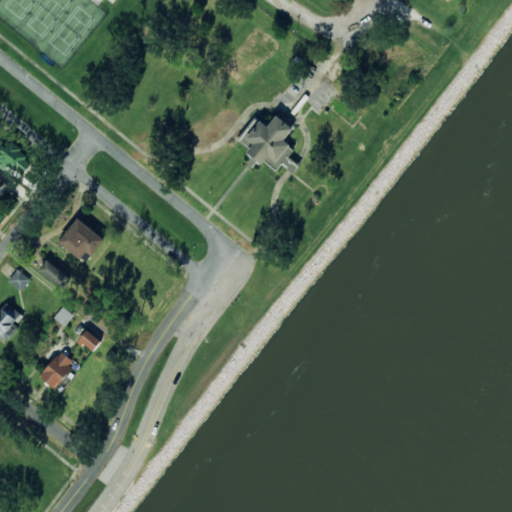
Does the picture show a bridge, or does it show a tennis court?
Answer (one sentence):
There is a tennis court in the scene.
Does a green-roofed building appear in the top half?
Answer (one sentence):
Yes, looking in the top half, one can make out a green-roofed building.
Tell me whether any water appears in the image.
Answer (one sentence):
Yes, some water is visible.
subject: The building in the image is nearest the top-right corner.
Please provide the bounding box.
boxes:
[236,116,294,174]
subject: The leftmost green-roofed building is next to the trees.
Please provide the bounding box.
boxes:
[0,140,29,176]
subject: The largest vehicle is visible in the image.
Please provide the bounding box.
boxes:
[292,96,308,116]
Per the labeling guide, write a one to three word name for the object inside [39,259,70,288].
house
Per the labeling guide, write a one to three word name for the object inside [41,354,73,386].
house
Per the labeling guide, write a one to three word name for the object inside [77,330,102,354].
building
